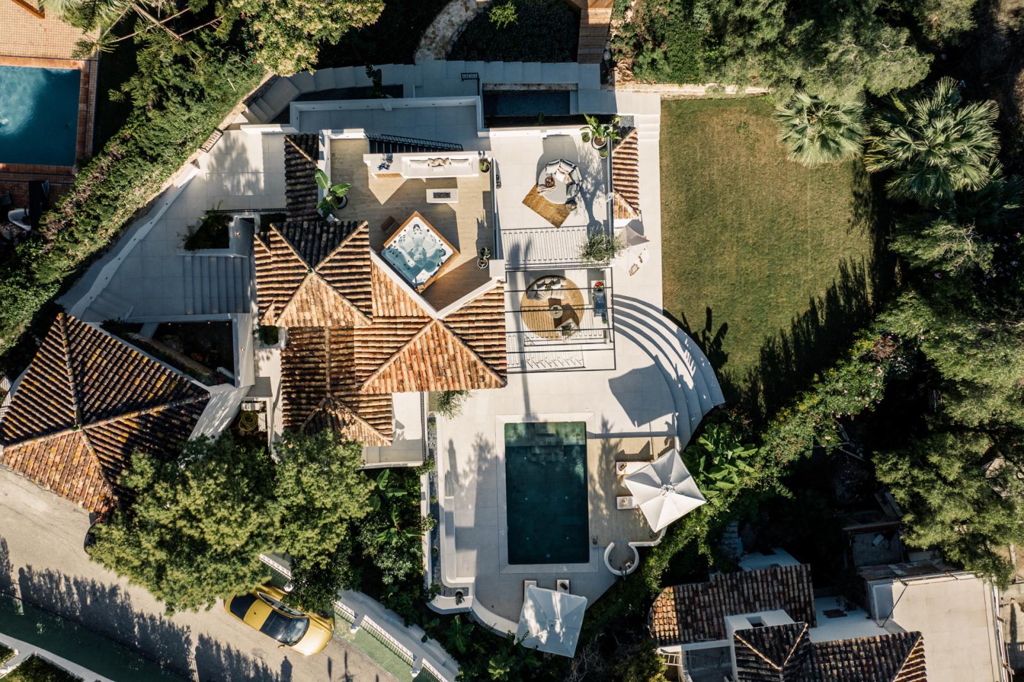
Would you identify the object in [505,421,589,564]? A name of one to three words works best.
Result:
swimming pool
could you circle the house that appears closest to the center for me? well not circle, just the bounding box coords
[128,94,643,469]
